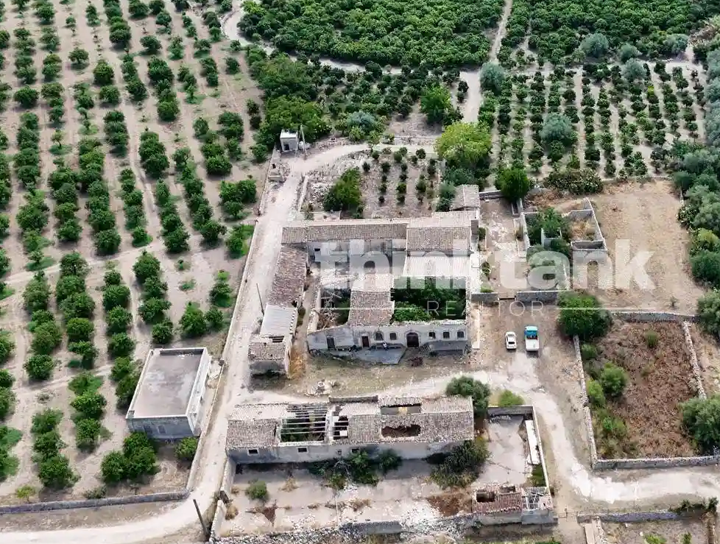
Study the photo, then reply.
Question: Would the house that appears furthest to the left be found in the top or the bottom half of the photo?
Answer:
bottom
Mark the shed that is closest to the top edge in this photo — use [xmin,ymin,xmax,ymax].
[278,128,299,152]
